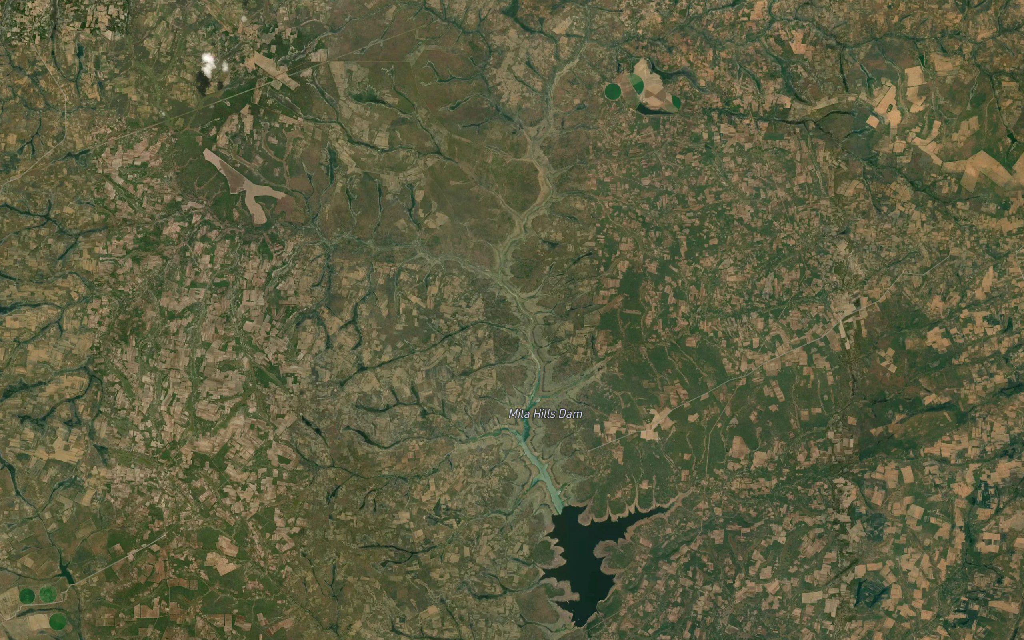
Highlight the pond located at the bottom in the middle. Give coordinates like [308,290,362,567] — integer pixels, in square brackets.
[540,504,673,627]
